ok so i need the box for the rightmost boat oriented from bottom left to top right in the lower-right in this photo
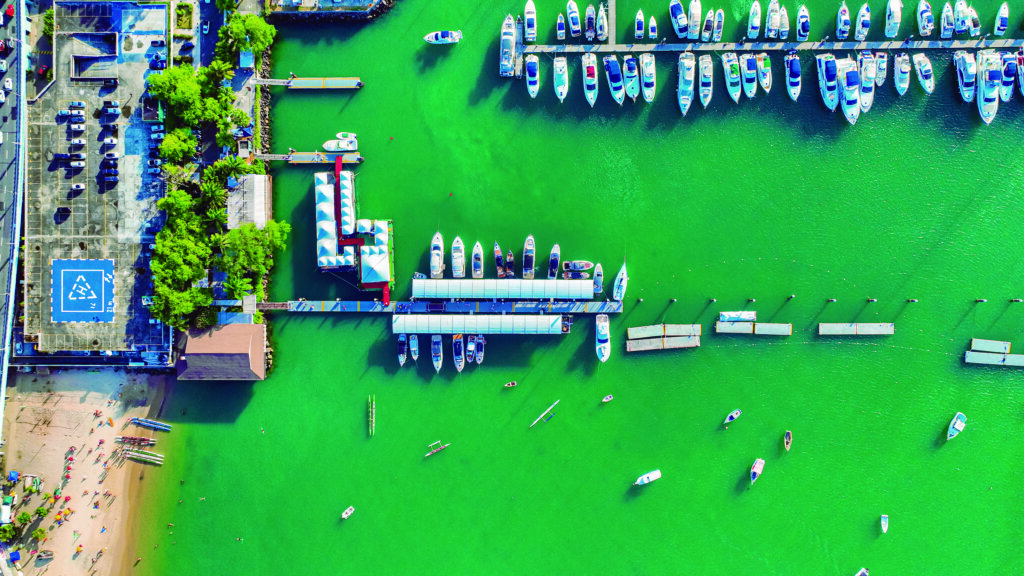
[947,413,965,438]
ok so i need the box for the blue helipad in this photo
[51,260,115,322]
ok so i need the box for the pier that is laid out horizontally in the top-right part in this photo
[516,21,1024,79]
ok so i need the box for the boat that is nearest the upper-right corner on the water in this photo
[993,2,1010,38]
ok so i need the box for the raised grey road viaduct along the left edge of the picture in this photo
[0,0,30,487]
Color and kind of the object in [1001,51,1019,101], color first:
blue boat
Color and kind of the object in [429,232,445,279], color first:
white boat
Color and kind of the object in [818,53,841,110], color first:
blue boat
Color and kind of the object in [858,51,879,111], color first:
white boat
